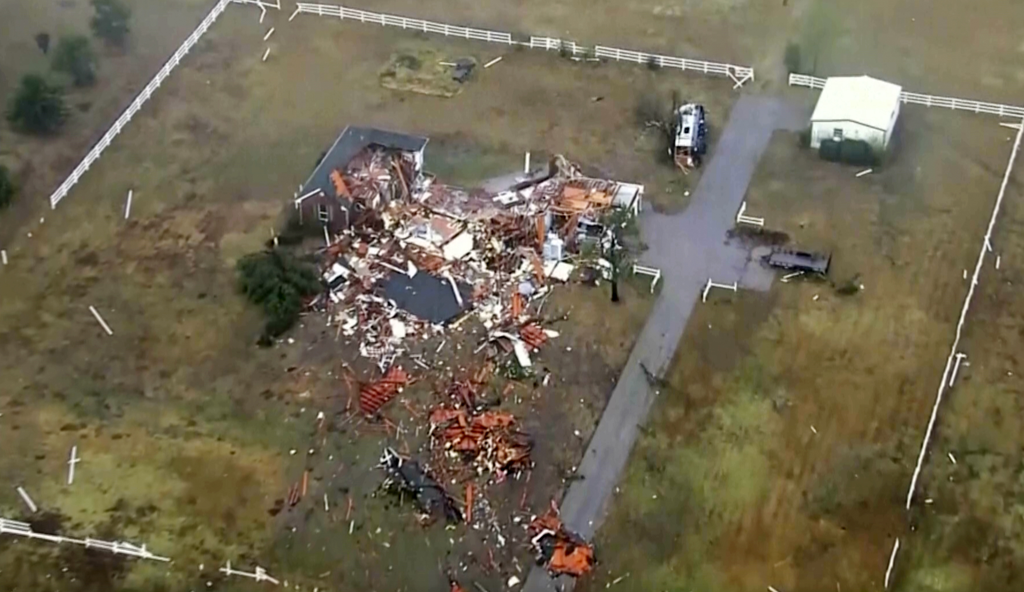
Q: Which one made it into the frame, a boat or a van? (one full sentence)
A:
The one in the frame is a van.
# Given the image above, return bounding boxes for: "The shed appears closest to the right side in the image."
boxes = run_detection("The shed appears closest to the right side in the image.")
[810,74,904,156]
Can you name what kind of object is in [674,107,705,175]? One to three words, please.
van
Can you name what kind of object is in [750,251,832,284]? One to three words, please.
trailer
